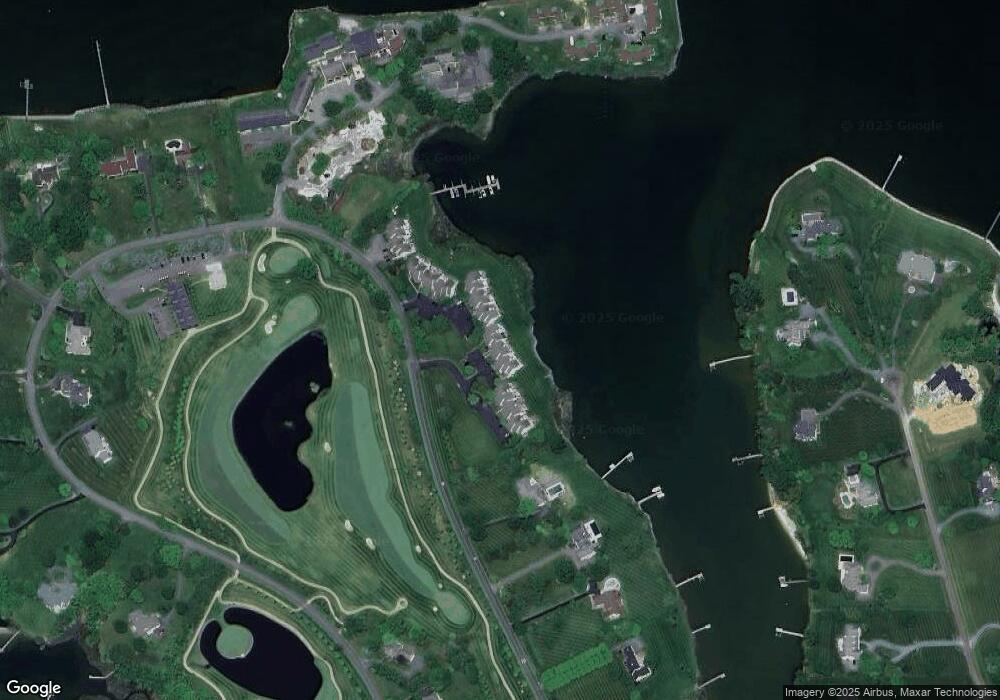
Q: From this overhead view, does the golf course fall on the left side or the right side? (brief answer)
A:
left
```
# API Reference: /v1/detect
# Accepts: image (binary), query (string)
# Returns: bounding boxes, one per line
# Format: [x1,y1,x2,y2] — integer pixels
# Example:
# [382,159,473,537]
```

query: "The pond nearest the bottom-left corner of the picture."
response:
[200,606,322,700]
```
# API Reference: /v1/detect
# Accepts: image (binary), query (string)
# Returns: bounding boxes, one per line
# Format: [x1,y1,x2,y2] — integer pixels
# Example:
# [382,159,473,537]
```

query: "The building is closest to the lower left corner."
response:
[37,580,76,611]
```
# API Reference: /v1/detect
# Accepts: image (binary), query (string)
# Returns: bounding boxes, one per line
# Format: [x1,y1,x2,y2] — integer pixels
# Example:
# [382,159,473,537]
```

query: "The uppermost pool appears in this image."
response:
[165,141,181,154]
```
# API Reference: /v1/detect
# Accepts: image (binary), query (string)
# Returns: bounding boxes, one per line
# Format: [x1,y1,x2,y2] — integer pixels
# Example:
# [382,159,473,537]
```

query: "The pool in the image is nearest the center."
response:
[544,480,564,499]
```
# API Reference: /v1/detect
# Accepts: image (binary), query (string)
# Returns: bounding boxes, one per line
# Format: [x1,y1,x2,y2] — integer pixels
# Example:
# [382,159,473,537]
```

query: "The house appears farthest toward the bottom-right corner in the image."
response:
[839,630,862,660]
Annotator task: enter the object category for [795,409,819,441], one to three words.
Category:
house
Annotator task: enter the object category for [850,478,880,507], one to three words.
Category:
house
